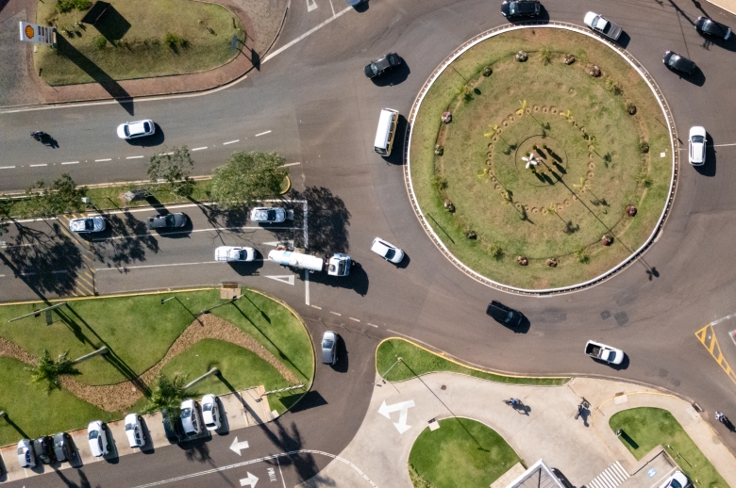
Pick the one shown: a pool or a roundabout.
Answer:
roundabout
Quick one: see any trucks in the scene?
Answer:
Yes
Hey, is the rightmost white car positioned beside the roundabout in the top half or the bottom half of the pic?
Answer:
top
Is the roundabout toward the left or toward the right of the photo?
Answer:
right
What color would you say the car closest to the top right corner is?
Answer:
black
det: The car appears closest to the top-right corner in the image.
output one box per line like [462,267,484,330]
[693,14,736,44]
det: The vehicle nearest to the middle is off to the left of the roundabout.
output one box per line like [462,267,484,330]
[368,236,406,265]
